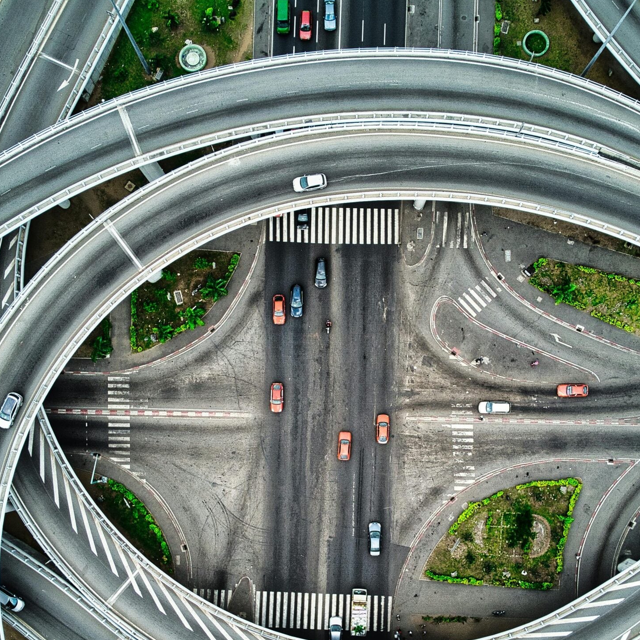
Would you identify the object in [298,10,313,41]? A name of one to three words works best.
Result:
car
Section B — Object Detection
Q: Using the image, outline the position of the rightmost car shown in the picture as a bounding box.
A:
[556,384,588,397]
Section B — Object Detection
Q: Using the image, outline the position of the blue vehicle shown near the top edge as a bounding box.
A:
[323,0,337,32]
